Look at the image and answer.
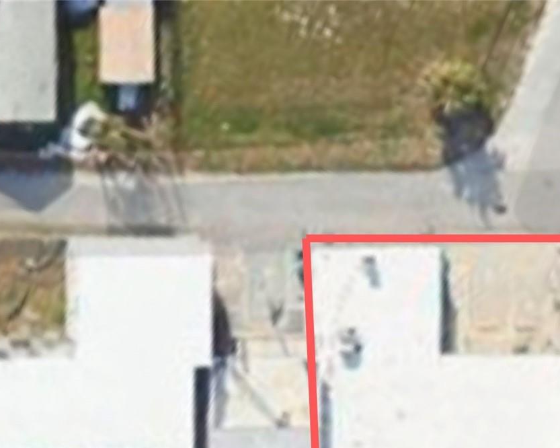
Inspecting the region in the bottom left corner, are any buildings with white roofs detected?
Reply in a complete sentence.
Yes, a building with a white roof can be seen in the bottom left corner.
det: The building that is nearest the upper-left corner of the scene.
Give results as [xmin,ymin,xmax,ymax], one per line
[0,0,57,122]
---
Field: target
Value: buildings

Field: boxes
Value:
[309,245,560,448]
[99,0,154,109]
[0,0,57,122]
[0,239,213,448]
